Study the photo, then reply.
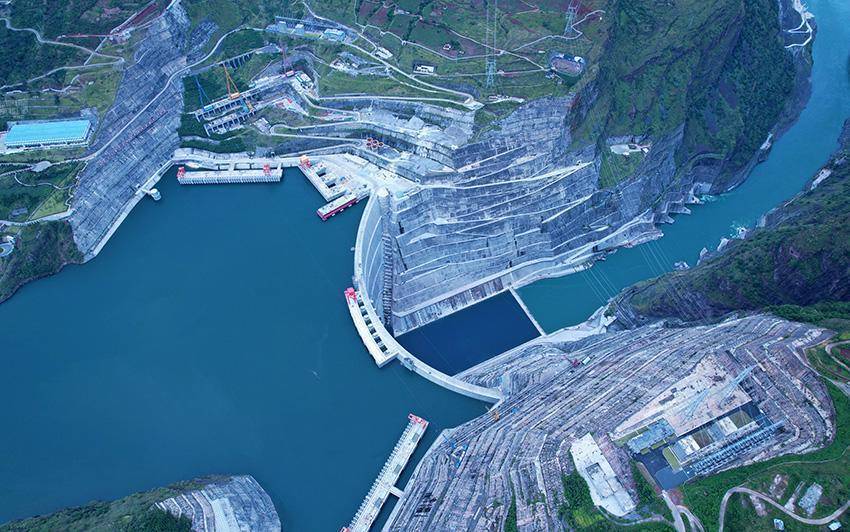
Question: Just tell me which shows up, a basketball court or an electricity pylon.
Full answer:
Of the two, only an electricity pylon appears.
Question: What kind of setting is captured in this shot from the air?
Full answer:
It's a port.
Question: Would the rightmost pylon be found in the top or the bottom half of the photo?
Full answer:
The rightmost pylon sits in the bottom half of the picture.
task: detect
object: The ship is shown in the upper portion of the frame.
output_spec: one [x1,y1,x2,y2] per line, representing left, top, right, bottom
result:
[317,190,364,223]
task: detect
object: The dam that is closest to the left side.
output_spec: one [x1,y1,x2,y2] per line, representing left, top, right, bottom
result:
[351,188,502,408]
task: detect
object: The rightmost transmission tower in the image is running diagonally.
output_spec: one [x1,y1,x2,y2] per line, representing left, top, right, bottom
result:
[716,362,762,409]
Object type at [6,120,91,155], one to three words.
building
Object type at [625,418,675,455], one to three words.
building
